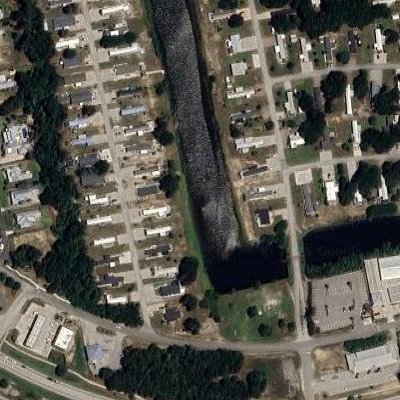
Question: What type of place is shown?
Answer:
residential area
